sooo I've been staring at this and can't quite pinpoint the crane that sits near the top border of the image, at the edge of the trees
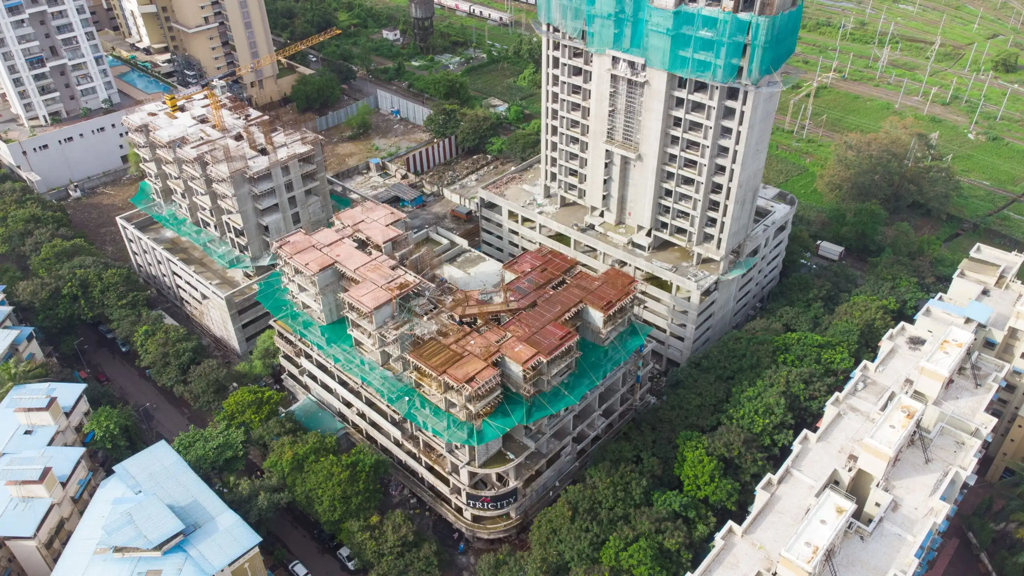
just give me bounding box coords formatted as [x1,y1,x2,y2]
[155,24,343,131]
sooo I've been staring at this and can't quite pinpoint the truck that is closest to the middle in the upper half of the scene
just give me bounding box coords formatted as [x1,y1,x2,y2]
[448,202,478,225]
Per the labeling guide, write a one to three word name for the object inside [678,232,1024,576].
building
